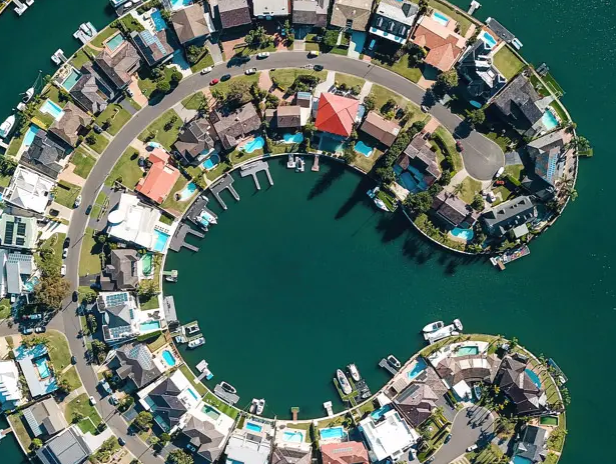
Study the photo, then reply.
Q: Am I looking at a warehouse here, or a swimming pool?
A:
swimming pool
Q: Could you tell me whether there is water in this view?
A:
Yes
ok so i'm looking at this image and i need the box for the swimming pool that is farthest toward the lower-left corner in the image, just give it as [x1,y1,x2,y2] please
[37,354,57,382]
